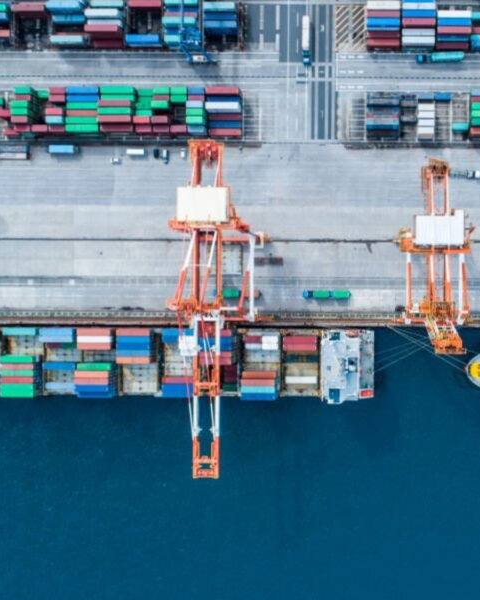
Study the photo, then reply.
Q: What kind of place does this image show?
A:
port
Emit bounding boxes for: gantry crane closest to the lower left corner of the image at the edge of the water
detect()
[156,138,271,478]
